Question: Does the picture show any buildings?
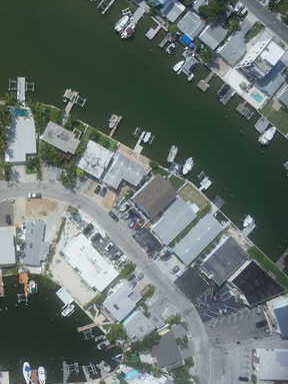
Yes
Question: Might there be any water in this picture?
Yes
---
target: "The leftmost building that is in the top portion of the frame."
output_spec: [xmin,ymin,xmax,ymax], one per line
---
[2,117,37,162]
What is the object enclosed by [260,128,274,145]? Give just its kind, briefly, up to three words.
boat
